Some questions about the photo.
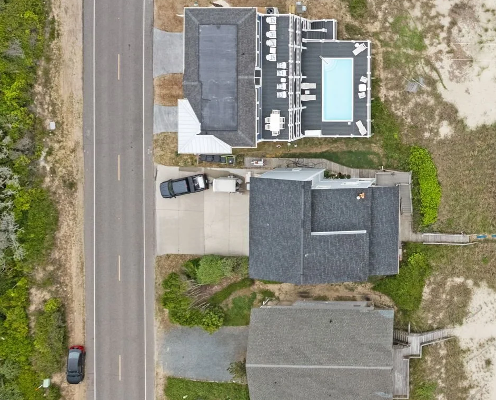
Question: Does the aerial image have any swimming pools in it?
Yes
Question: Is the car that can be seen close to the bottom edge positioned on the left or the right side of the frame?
left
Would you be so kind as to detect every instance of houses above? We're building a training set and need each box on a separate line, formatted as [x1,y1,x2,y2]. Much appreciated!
[250,169,400,284]
[245,294,396,400]
[177,6,312,154]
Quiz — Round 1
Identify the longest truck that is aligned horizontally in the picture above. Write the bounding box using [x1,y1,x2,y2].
[160,173,213,199]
